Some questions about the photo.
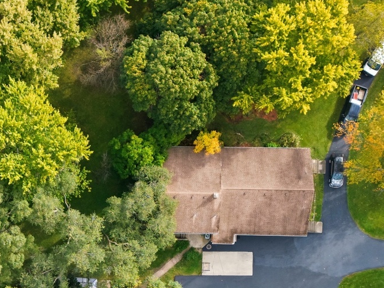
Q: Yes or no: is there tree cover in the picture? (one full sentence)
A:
Yes, there's tree cover in this view.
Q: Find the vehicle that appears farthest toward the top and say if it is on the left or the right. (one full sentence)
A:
The vehicle that appears farthest toward the top is on the right side of the image.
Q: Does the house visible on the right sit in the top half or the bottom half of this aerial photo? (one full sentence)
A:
It is in the bottom half that the house visible on the right appears.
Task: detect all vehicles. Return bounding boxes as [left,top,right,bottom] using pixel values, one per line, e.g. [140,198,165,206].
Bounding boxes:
[329,155,346,187]
[340,87,366,127]
[363,42,384,78]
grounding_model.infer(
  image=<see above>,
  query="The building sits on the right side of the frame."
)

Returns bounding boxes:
[166,146,316,245]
